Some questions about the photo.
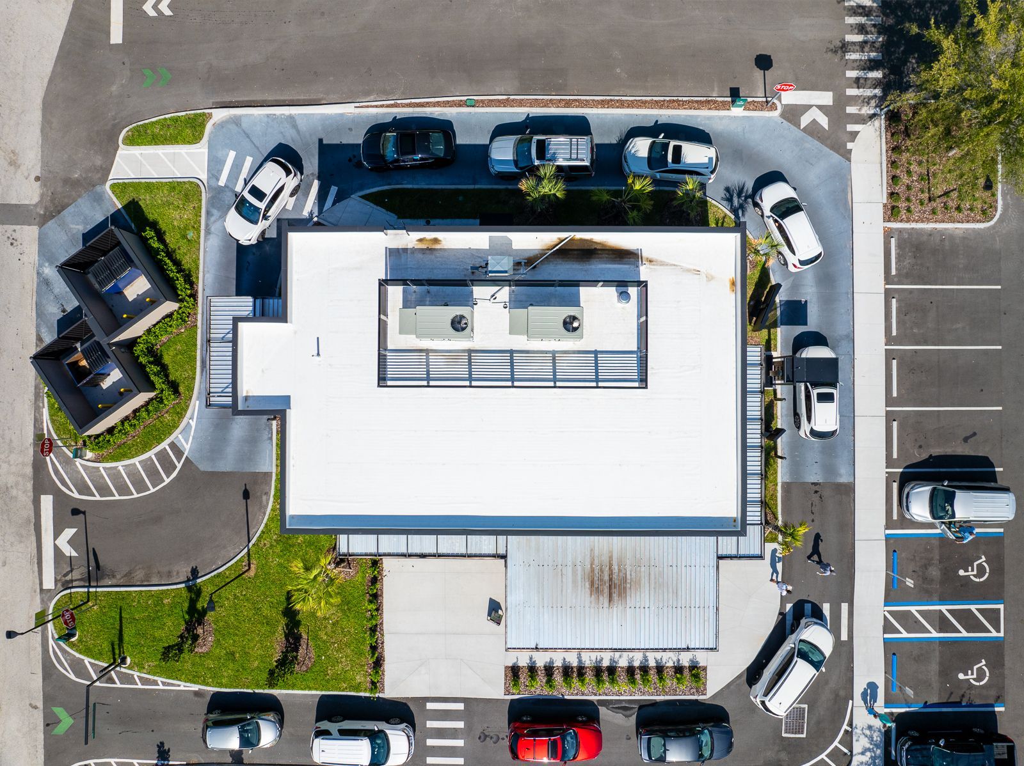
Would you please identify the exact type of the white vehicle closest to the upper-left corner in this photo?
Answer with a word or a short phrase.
automobile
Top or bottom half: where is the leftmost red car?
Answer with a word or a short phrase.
bottom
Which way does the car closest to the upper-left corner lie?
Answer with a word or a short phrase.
diagonally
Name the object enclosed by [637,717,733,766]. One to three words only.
car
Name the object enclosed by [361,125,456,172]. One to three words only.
car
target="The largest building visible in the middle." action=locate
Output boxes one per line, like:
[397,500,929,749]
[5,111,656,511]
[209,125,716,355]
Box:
[207,220,766,652]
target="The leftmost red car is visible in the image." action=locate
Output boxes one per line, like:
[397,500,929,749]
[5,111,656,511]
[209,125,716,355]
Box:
[510,716,602,766]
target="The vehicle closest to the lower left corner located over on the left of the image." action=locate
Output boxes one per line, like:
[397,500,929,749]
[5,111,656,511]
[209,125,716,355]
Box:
[202,708,285,757]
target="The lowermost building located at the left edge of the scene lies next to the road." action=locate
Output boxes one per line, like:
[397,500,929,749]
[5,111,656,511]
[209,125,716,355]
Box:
[27,317,156,431]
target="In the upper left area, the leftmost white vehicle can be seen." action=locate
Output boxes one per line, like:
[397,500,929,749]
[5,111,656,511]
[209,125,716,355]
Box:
[230,156,303,243]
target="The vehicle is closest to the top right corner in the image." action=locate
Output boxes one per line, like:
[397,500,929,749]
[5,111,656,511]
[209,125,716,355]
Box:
[755,182,820,271]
